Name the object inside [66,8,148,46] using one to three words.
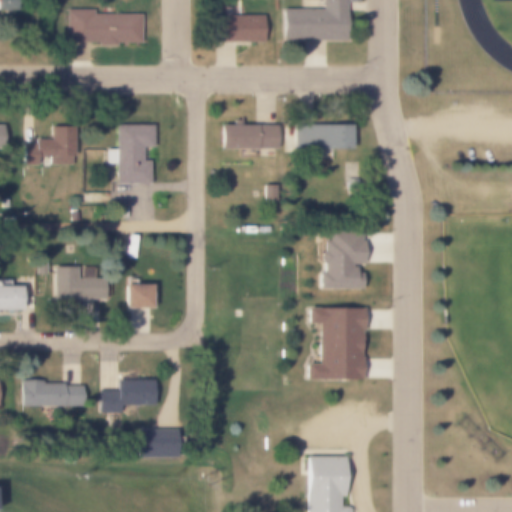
house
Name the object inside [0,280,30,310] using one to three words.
house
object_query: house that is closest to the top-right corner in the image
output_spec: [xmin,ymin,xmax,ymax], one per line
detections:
[284,0,355,42]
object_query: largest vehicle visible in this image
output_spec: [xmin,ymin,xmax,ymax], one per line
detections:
[128,231,141,258]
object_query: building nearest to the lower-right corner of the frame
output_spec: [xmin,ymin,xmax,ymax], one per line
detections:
[306,456,354,512]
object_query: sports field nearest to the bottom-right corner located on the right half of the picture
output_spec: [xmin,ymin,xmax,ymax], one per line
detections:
[442,212,512,442]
